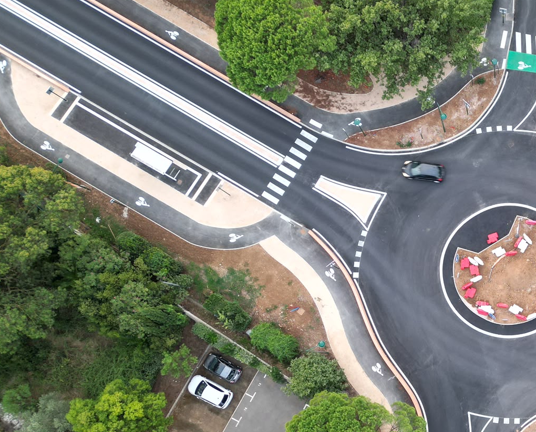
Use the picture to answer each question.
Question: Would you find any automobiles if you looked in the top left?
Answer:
No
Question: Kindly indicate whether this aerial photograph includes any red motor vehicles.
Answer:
No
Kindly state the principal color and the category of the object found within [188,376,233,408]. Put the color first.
white car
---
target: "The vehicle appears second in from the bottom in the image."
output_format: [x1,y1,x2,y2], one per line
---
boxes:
[203,353,243,383]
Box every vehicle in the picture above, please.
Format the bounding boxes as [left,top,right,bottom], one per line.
[401,159,446,184]
[203,353,243,383]
[188,376,233,408]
